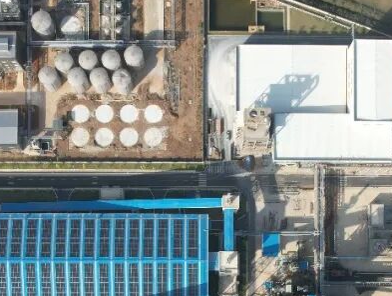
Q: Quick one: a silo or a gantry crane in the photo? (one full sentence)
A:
There is a silo in the scene.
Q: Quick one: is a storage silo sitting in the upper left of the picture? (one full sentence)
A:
Yes, a storage silo is visible in the upper left of the picture.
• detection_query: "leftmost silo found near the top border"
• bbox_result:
[31,8,60,42]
